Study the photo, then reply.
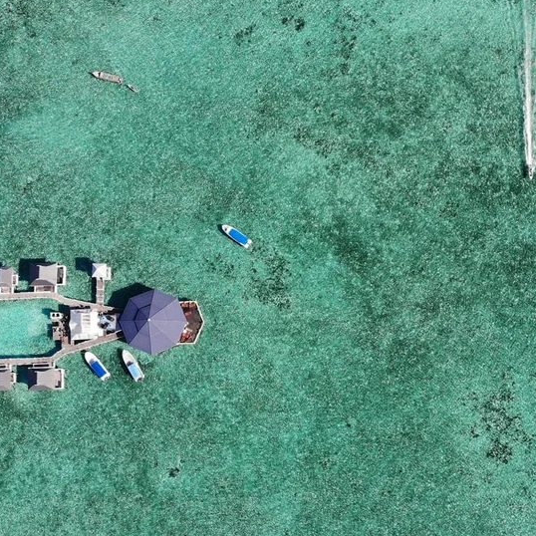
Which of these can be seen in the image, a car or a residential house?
residential house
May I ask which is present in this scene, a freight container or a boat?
boat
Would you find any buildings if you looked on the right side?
No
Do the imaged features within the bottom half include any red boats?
No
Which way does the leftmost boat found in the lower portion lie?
diagonally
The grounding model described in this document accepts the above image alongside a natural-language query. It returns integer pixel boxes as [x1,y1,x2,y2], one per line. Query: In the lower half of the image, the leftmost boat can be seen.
[83,351,110,381]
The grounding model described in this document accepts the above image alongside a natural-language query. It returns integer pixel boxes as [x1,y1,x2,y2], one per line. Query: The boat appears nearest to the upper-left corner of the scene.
[92,71,124,84]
